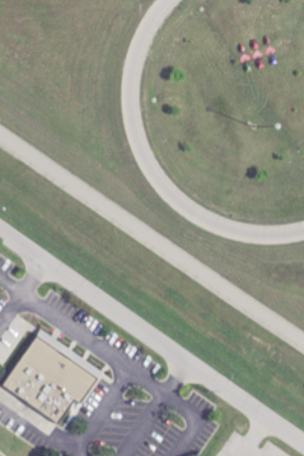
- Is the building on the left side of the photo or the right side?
left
